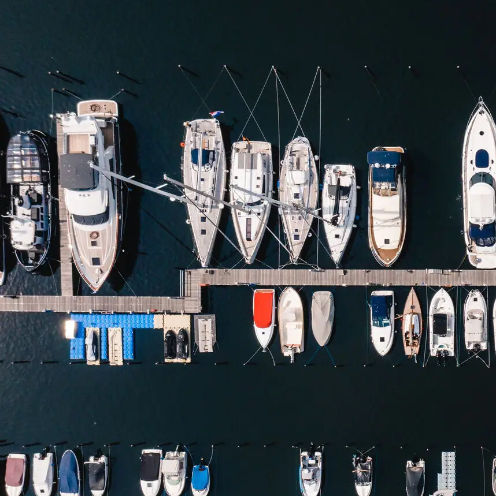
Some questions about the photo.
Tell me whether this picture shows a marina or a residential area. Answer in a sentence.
The picture captures a marina.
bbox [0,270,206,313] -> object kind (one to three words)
pier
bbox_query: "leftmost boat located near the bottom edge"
[4,454,30,496]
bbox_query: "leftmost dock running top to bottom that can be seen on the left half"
[60,117,80,296]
